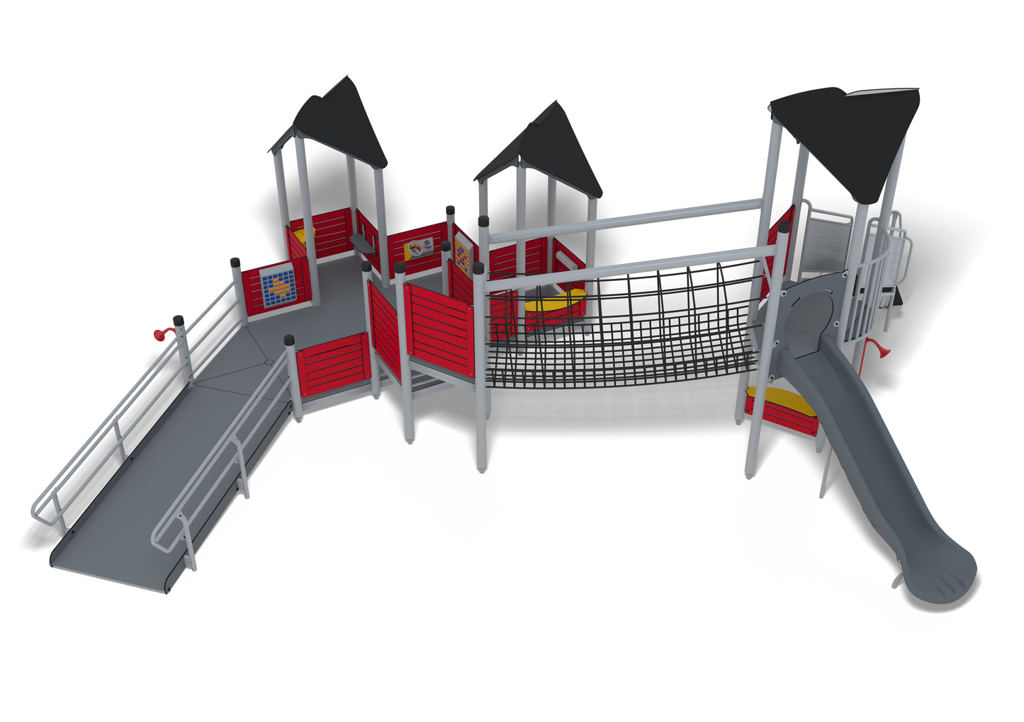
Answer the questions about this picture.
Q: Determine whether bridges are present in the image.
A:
Yes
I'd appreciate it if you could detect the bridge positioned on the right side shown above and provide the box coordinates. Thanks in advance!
[482,198,777,390]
